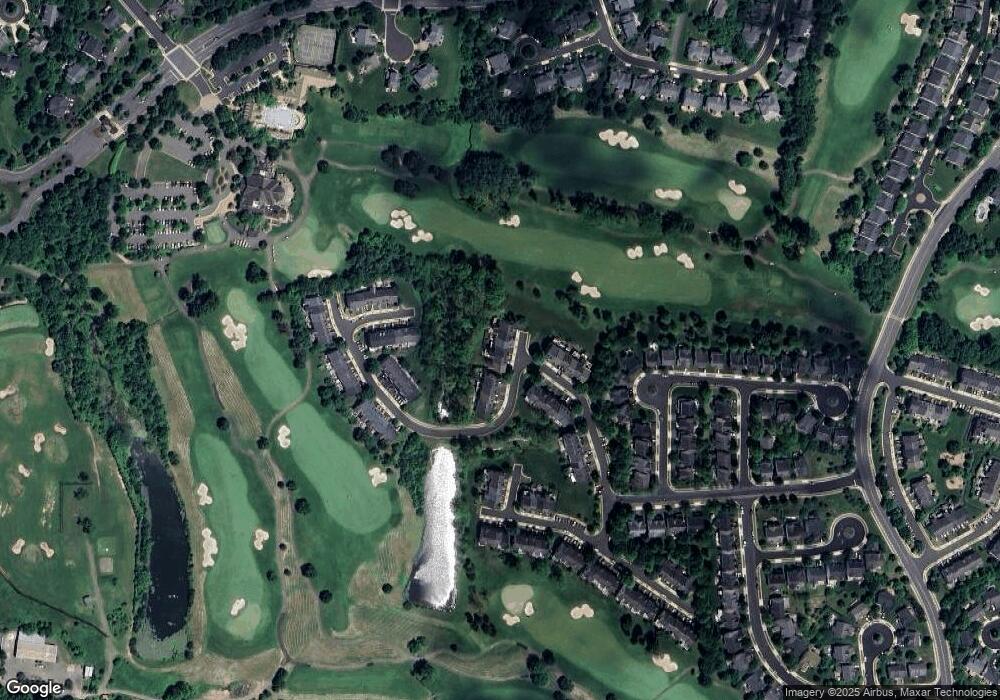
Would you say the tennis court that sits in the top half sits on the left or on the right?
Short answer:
left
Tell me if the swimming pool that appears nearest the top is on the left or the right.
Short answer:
left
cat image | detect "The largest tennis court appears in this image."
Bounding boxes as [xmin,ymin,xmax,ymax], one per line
[296,26,337,65]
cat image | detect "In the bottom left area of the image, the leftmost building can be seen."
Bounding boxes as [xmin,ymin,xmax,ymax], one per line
[16,632,57,663]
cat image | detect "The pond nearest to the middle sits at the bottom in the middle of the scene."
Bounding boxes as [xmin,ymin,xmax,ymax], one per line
[408,446,457,609]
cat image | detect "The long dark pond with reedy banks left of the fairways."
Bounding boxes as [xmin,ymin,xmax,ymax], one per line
[136,440,190,639]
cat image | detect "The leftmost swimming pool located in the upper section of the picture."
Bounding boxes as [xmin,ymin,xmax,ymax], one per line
[241,101,306,139]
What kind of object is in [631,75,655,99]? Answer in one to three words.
house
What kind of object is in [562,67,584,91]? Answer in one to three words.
house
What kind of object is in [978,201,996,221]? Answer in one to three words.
swimming pool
